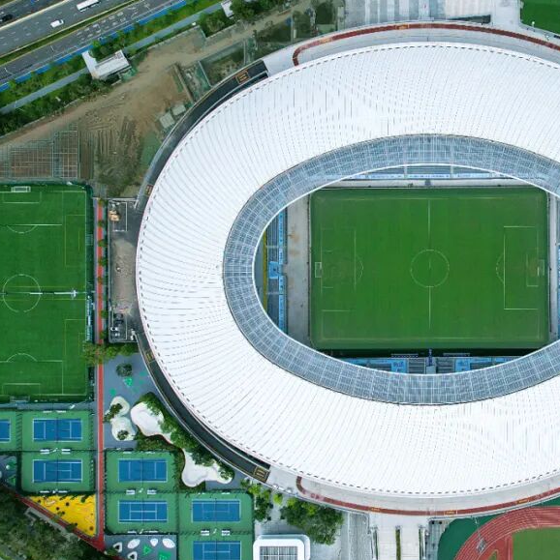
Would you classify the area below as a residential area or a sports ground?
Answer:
sports ground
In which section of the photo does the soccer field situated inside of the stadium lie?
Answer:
right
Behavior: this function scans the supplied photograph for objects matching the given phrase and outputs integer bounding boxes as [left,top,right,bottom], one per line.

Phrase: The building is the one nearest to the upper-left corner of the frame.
[82,49,133,78]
